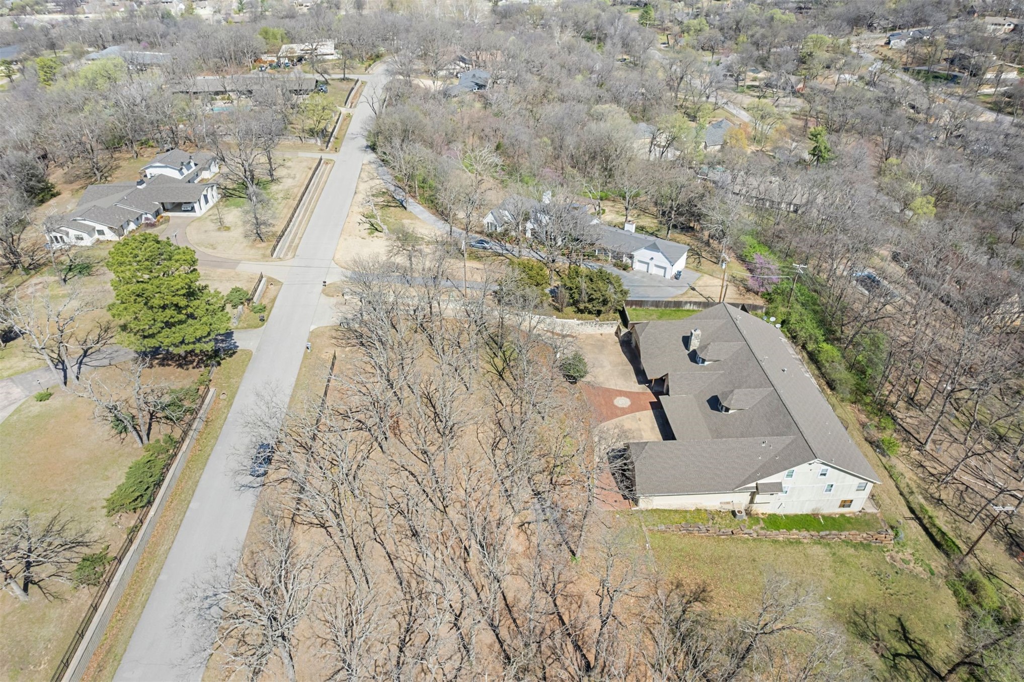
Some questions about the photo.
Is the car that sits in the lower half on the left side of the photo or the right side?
left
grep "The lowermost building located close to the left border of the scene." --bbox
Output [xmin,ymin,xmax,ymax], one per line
[29,147,227,248]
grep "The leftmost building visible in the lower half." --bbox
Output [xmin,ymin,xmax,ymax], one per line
[620,301,882,520]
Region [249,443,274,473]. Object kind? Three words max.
car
